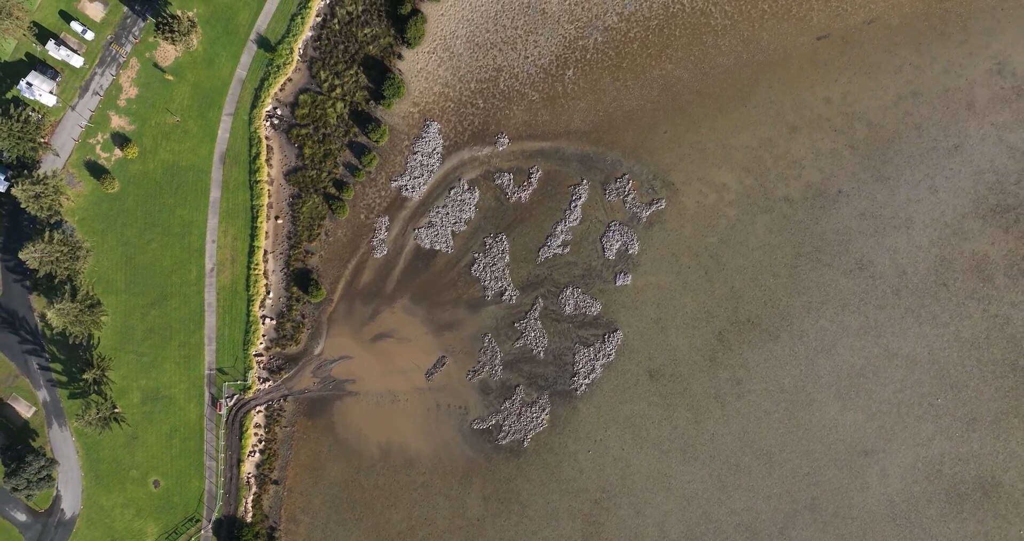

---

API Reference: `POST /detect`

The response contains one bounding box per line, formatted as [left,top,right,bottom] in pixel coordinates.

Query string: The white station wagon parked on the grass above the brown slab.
[71,20,97,42]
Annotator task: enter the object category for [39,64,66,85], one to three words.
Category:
car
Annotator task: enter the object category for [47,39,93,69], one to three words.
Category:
camper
